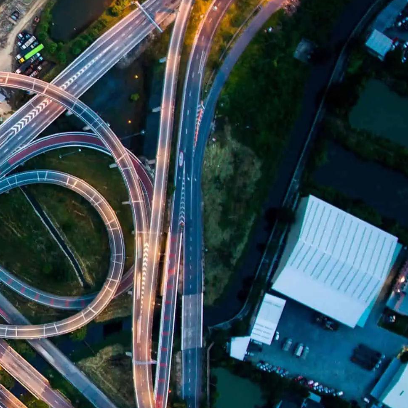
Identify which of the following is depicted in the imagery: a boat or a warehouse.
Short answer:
warehouse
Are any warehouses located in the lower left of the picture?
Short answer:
No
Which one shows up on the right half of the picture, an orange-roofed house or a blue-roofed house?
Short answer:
blue-roofed house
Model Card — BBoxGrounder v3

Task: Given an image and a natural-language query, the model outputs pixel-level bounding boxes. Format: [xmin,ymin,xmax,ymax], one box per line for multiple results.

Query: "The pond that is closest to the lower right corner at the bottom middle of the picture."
[215,366,265,408]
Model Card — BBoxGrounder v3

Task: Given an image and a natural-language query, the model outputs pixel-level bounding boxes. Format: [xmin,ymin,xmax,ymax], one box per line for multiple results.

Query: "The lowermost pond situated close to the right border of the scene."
[316,153,408,237]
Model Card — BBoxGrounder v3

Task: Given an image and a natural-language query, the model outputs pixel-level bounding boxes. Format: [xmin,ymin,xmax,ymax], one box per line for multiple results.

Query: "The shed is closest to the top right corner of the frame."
[368,0,408,32]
